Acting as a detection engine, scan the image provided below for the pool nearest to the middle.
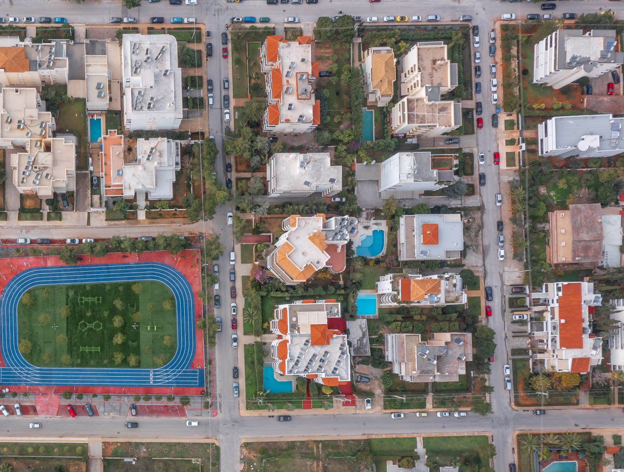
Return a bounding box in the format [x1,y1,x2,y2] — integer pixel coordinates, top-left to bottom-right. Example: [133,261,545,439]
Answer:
[355,228,386,258]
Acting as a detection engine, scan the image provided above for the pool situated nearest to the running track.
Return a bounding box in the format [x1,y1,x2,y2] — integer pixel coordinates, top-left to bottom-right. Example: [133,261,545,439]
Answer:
[262,366,294,394]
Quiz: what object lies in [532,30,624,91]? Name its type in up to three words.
building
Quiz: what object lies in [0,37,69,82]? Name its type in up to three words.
building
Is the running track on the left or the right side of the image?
left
